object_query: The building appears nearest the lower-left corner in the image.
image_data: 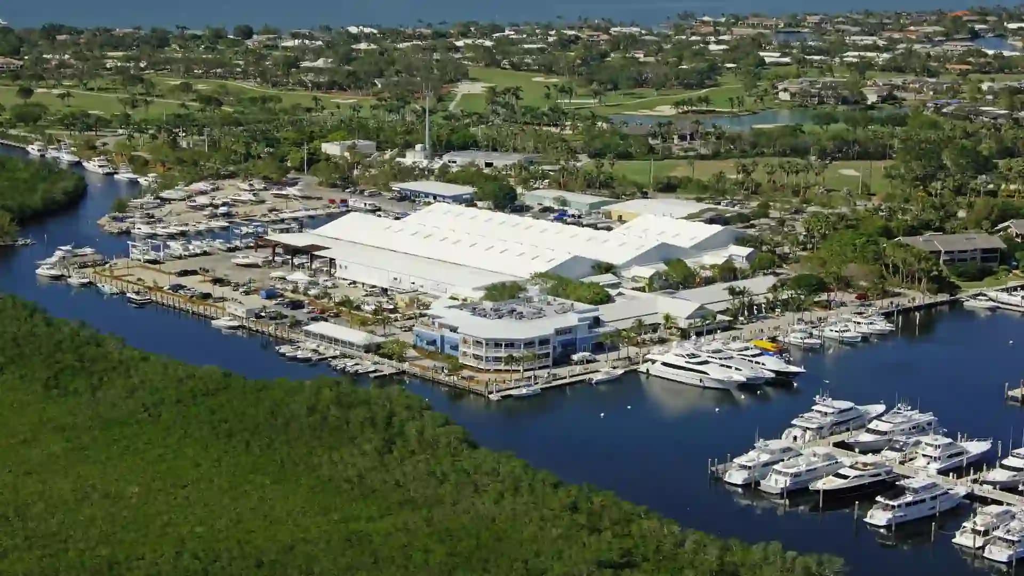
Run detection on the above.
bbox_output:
[226,296,272,330]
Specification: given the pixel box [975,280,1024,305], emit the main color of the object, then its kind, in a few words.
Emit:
white boat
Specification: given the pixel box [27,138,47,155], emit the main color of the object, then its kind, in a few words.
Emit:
white boat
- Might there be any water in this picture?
Yes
